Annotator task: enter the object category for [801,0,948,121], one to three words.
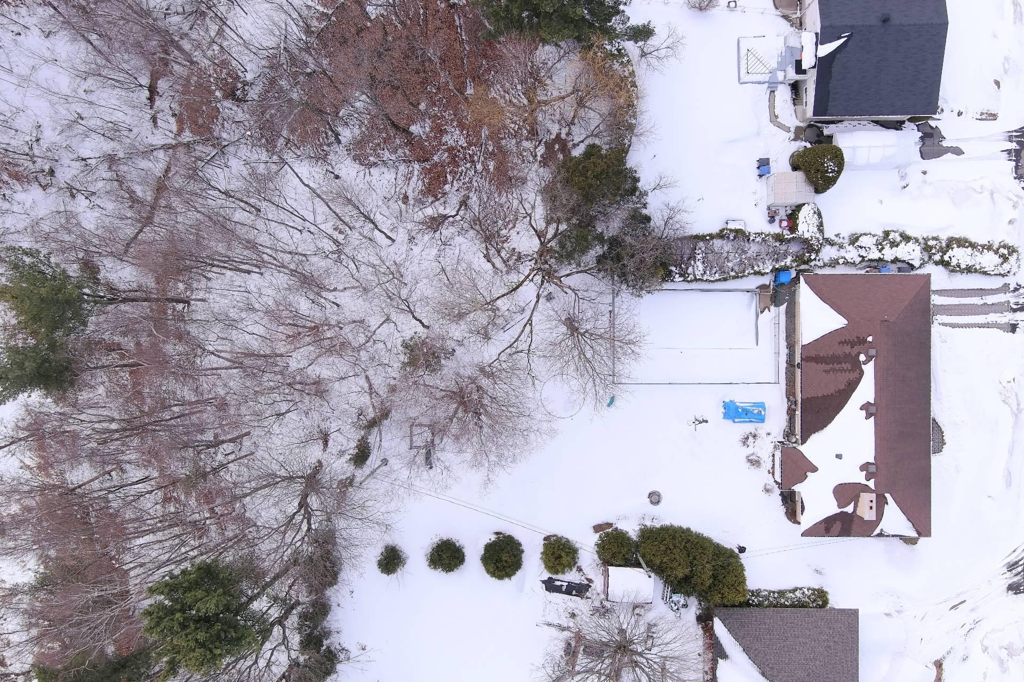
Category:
house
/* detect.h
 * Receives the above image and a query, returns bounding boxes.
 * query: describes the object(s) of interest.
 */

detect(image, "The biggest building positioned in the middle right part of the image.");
[775,272,933,540]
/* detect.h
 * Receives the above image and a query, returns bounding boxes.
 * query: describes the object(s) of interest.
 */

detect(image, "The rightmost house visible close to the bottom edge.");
[713,606,859,682]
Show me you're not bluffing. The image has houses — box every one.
[713,606,859,682]
[775,272,933,540]
[801,0,948,121]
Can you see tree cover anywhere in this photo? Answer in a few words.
Yes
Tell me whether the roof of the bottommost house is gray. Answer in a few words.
Yes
